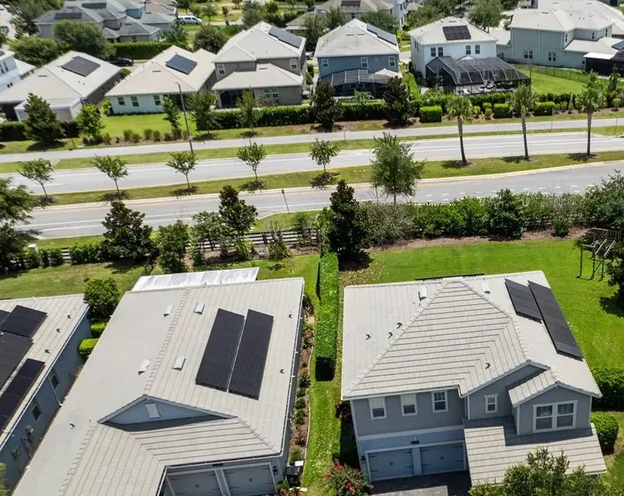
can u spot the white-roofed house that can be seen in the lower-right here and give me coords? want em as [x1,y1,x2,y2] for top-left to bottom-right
[340,267,610,496]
